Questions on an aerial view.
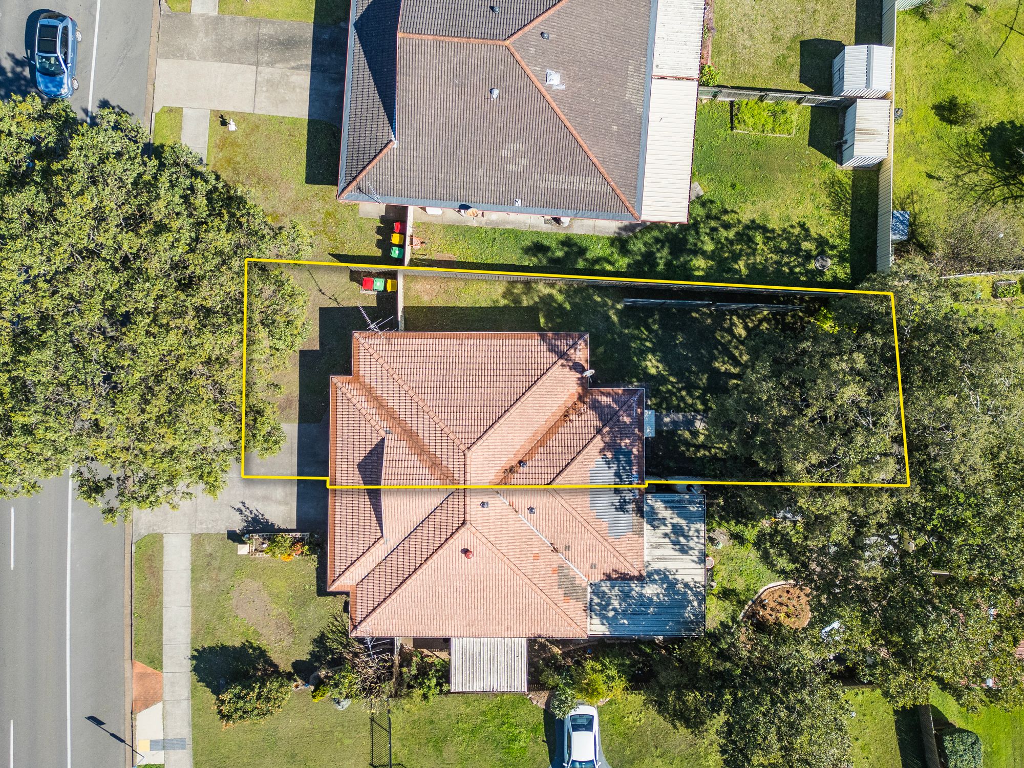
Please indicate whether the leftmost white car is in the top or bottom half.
bottom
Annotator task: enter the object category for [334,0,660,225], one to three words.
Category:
house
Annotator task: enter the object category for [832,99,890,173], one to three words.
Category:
shed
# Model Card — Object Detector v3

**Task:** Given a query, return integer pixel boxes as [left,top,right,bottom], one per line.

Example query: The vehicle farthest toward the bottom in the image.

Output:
[562,700,603,768]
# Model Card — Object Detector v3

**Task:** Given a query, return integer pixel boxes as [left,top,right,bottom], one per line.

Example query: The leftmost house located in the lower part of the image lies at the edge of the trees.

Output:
[327,331,646,639]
